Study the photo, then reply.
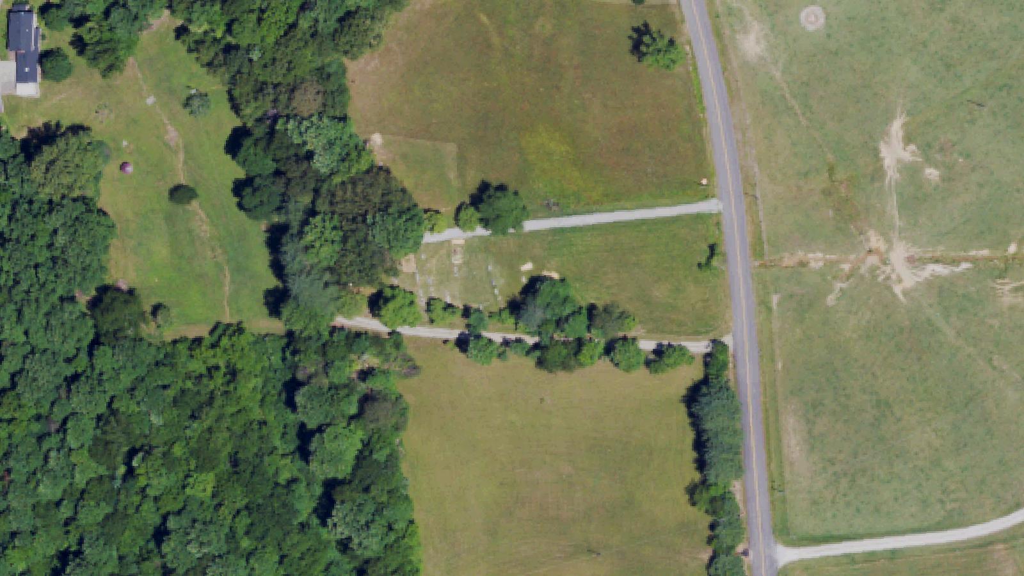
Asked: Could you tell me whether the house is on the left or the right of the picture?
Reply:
left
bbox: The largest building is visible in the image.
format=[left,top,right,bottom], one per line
[8,4,40,97]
